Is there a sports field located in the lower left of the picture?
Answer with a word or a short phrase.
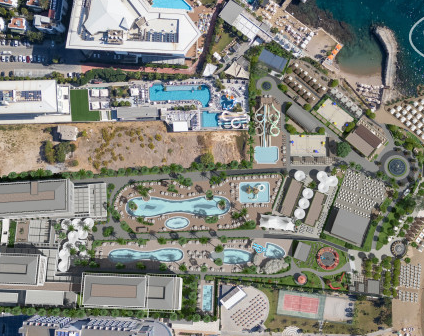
No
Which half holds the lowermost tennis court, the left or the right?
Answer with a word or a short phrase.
right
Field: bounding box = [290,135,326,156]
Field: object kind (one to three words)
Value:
sports court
